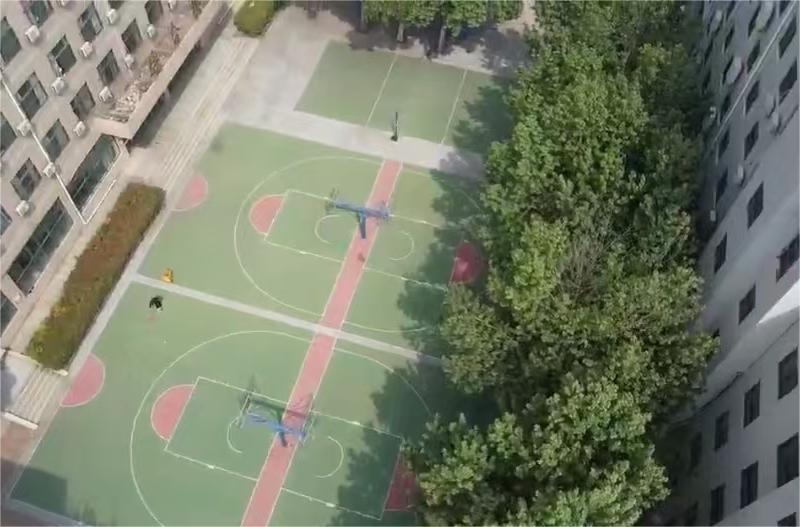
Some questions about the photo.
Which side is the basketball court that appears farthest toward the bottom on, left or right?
left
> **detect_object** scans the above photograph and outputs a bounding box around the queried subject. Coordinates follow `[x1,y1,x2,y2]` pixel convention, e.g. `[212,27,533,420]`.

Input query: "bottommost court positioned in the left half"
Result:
[10,281,498,527]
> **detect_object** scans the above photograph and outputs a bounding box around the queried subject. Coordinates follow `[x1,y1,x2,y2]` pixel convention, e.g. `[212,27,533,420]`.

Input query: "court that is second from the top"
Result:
[138,121,542,361]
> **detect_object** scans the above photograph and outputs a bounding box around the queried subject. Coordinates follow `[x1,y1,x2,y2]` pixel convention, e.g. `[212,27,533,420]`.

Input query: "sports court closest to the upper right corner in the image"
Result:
[295,39,565,169]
